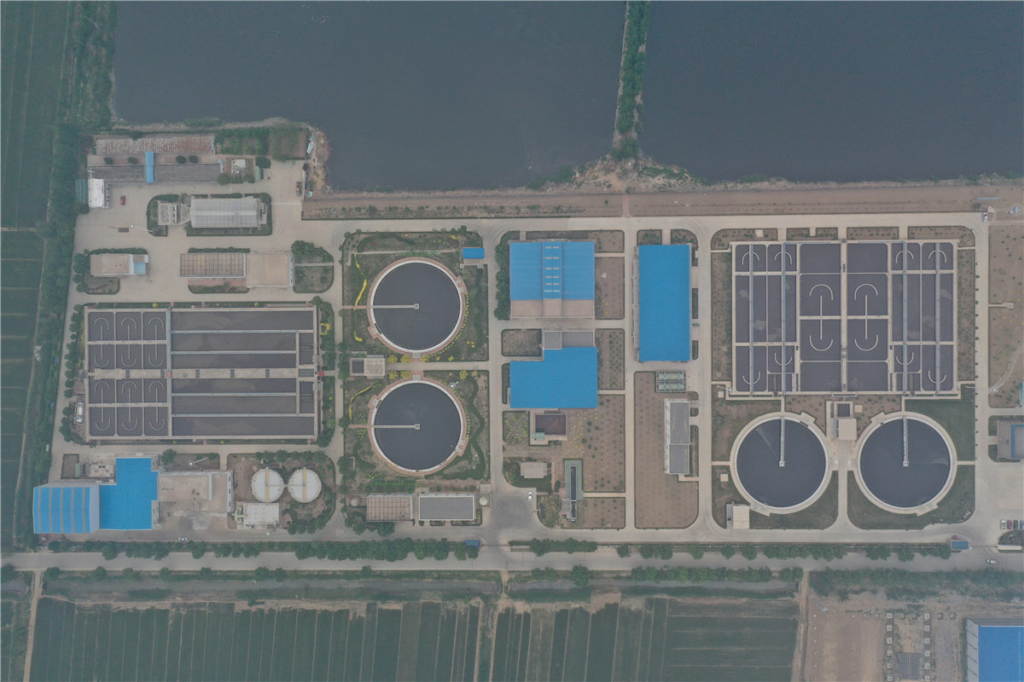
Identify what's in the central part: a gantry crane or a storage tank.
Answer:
storage tank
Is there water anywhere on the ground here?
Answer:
Yes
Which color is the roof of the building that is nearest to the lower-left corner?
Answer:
blue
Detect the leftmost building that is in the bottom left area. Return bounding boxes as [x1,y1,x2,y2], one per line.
[31,483,103,533]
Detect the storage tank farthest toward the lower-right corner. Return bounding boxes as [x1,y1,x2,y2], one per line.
[853,411,957,516]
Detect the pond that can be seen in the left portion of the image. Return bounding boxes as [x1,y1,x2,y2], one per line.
[114,0,625,190]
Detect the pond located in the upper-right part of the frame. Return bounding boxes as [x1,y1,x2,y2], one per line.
[641,0,1024,182]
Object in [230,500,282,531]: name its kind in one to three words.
house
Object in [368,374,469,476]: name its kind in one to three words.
storage tank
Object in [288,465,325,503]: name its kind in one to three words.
storage tank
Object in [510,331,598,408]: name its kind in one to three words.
building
